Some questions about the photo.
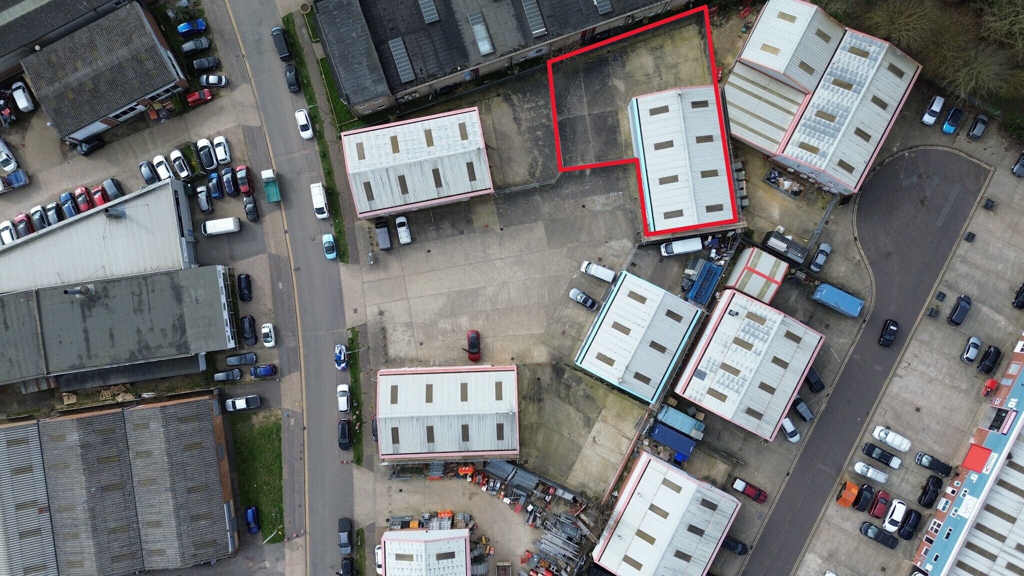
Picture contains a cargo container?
Yes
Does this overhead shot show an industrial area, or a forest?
industrial area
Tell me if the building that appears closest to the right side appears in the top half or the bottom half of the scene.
bottom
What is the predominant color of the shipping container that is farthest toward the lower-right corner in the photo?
blue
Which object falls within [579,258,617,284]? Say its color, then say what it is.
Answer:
white vehicle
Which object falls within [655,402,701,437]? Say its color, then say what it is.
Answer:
blue shipping container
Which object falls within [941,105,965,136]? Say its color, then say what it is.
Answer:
blue car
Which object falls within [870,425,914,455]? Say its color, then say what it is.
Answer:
white truck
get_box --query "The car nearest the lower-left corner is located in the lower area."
[244,505,261,533]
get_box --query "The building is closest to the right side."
[903,342,1024,576]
